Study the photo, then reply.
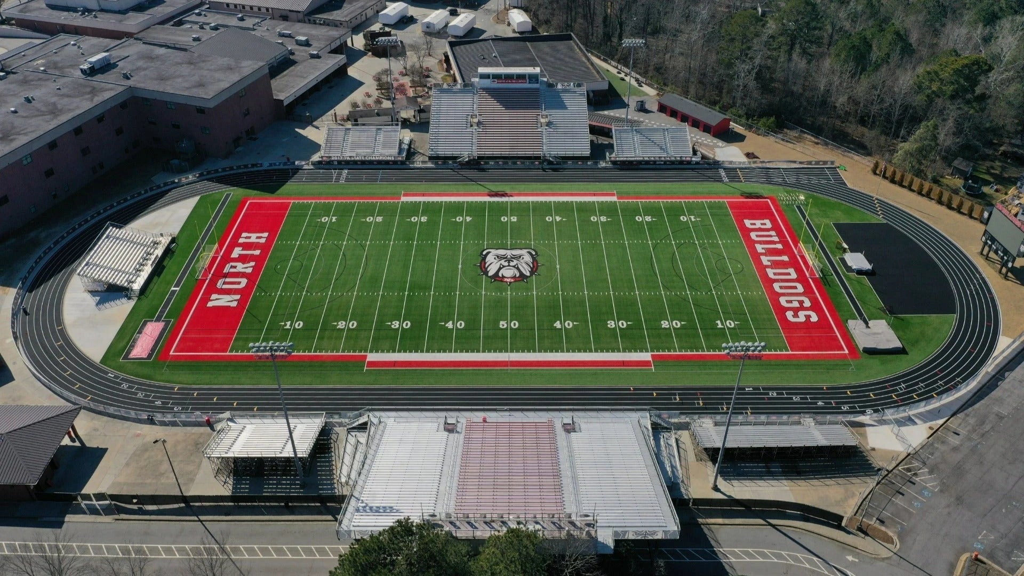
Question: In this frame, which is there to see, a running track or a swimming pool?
running track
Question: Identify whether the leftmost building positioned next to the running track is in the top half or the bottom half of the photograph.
bottom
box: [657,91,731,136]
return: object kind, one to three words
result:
shed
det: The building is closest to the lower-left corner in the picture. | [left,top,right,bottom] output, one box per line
[0,405,82,496]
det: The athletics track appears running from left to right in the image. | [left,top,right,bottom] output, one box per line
[16,168,1001,417]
